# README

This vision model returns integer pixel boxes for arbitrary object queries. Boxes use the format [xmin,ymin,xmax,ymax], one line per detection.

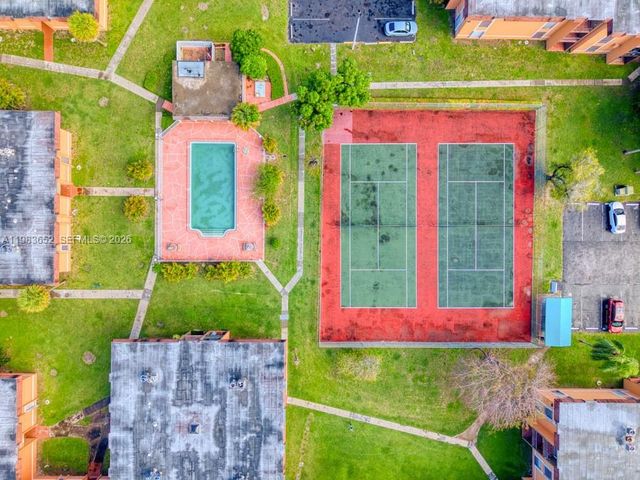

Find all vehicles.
[607,201,626,234]
[382,19,416,36]
[606,299,626,332]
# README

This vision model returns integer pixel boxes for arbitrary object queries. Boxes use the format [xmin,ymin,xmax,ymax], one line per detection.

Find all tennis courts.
[334,144,425,308]
[431,144,524,308]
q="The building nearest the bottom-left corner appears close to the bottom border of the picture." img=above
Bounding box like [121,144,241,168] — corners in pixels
[0,371,111,480]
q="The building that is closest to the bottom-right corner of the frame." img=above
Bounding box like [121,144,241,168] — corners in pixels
[526,378,640,480]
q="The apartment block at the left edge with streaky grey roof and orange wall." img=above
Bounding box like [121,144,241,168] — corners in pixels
[0,111,76,284]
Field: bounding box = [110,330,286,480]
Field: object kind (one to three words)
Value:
building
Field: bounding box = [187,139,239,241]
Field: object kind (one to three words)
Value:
swimming pool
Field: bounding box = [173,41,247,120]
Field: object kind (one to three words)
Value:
building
